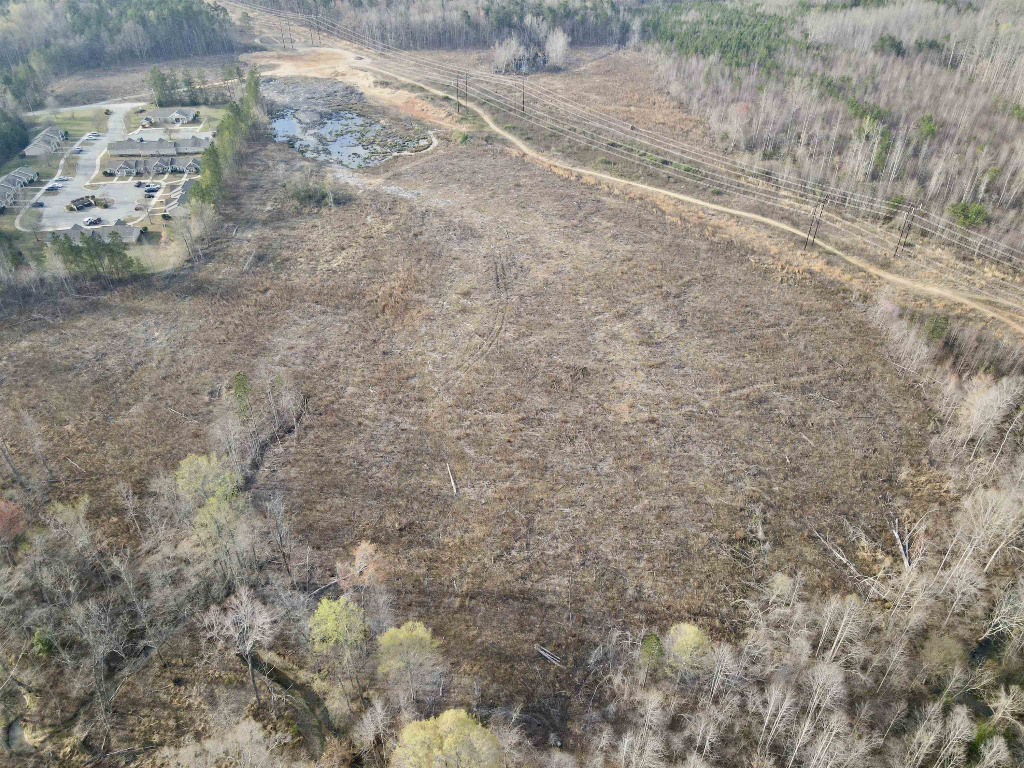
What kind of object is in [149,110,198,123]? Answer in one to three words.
building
